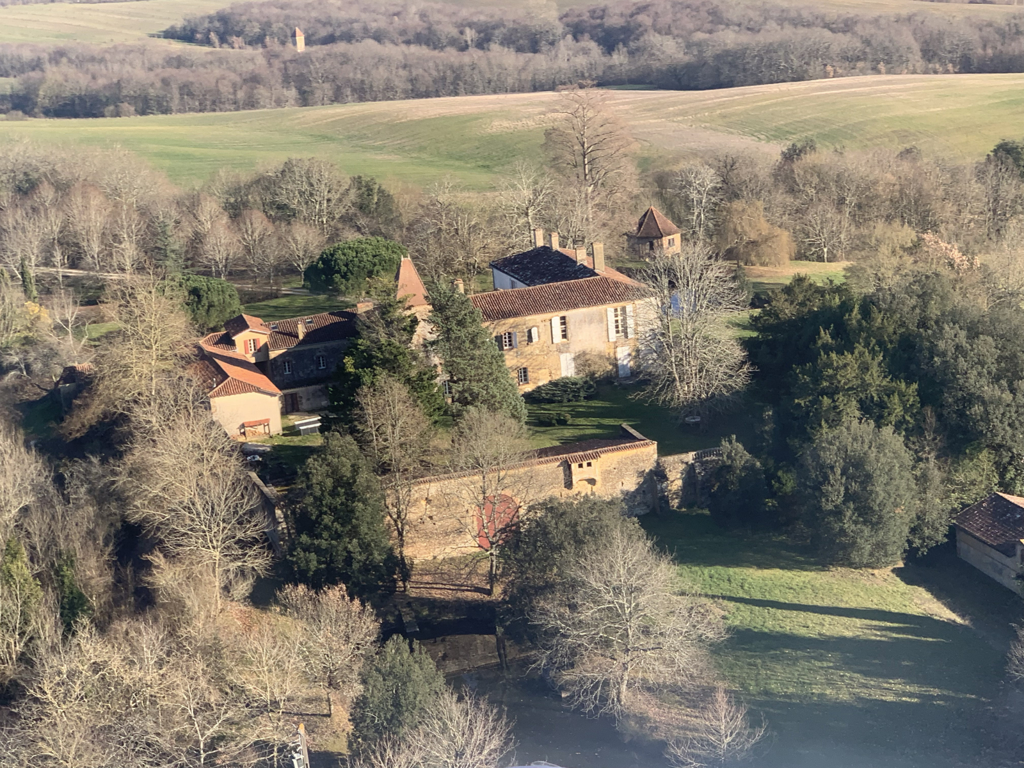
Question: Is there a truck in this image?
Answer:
No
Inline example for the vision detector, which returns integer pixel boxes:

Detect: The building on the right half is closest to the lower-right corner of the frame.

[952,485,1024,585]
